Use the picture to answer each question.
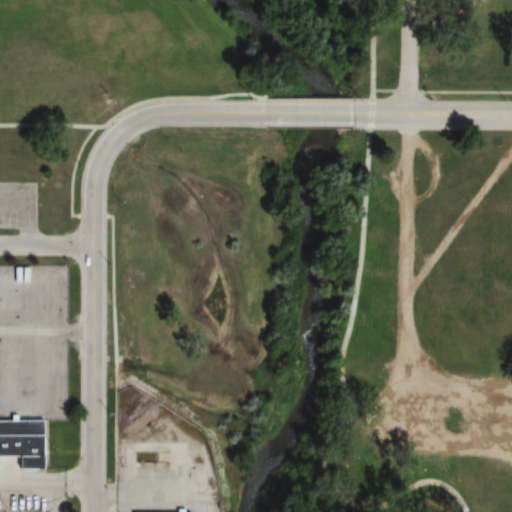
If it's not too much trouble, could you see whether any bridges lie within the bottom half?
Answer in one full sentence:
No, no bridge appears within the bottom half.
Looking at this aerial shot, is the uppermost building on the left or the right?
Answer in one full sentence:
The uppermost building appears in the left half of the scene.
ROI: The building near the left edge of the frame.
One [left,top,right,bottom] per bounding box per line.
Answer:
[0,414,48,468]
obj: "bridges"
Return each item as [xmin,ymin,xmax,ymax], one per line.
[266,98,354,128]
